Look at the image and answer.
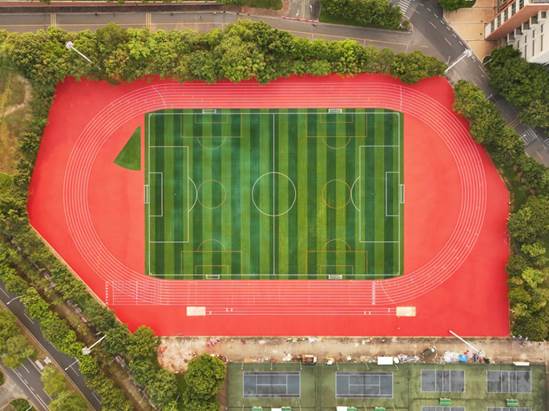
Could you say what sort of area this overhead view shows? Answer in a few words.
sports ground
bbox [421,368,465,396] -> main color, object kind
gray sports court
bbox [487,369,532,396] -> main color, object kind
gray sports court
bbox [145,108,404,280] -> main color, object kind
green soccer field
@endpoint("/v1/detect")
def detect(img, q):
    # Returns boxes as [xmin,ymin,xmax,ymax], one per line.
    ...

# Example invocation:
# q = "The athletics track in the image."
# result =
[28,64,510,337]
